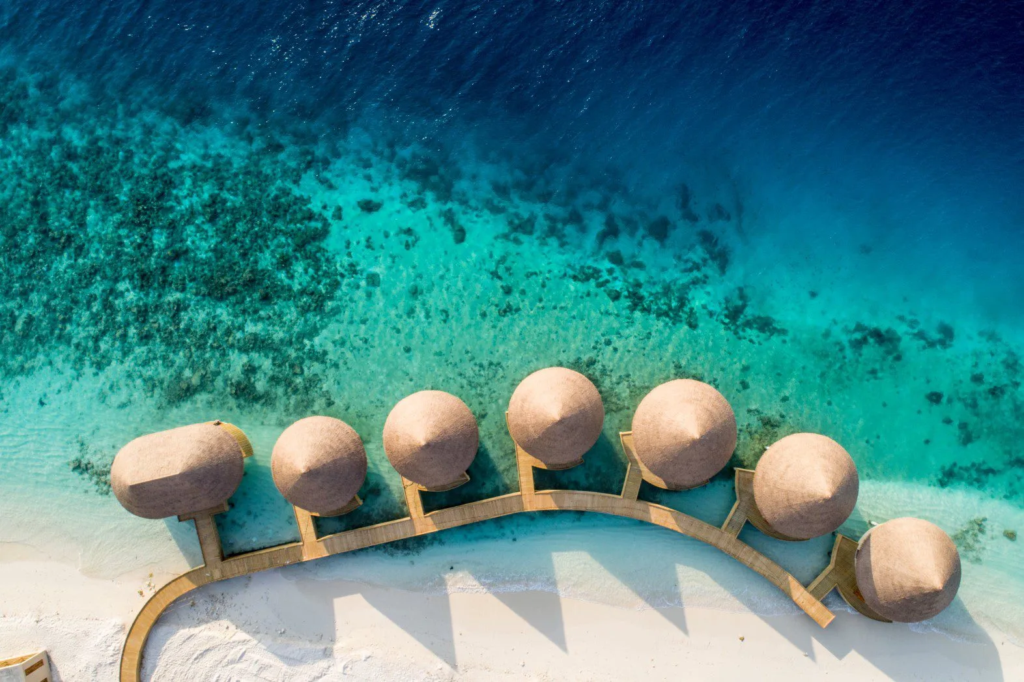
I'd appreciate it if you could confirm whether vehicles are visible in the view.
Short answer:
No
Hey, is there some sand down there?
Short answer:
Yes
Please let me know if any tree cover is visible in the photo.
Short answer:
No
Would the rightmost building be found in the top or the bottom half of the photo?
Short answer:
bottom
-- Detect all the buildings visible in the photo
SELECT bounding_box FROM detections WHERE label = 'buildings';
[805,516,960,623]
[0,651,49,682]
[271,416,368,545]
[111,420,255,567]
[721,432,858,542]
[619,379,737,502]
[383,390,479,521]
[506,367,605,496]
